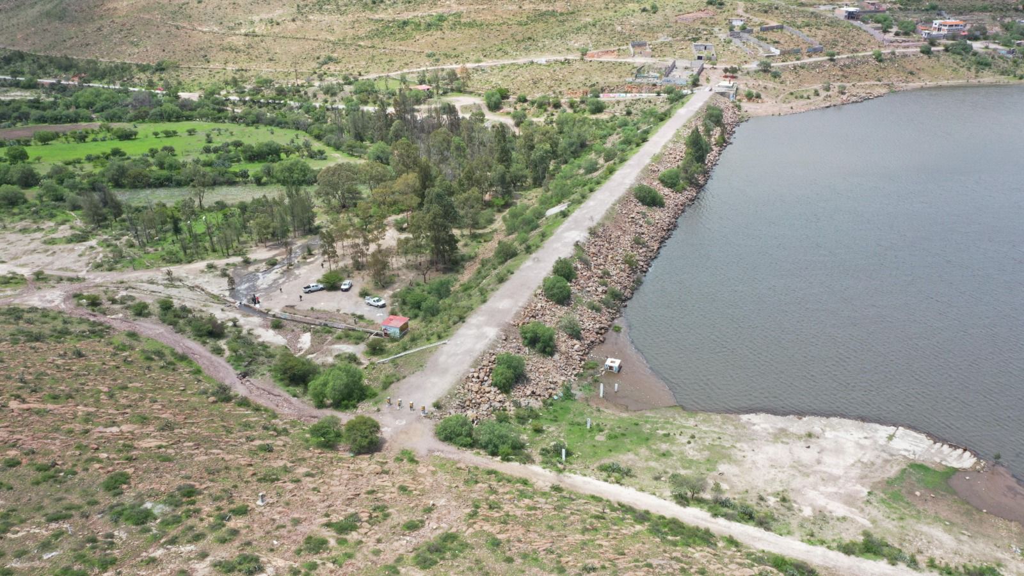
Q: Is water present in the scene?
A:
Yes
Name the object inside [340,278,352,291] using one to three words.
vehicle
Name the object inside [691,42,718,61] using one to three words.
house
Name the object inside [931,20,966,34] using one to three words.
house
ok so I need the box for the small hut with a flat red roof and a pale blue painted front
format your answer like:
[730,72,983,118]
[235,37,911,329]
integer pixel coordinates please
[381,315,405,339]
